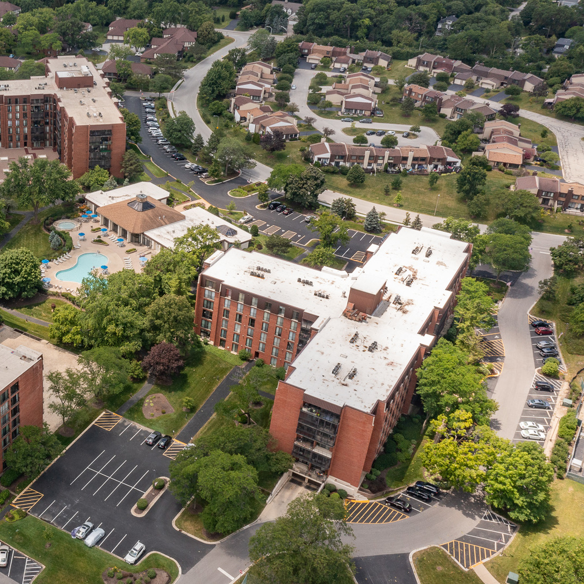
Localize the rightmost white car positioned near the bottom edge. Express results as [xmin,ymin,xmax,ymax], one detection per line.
[124,541,146,565]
